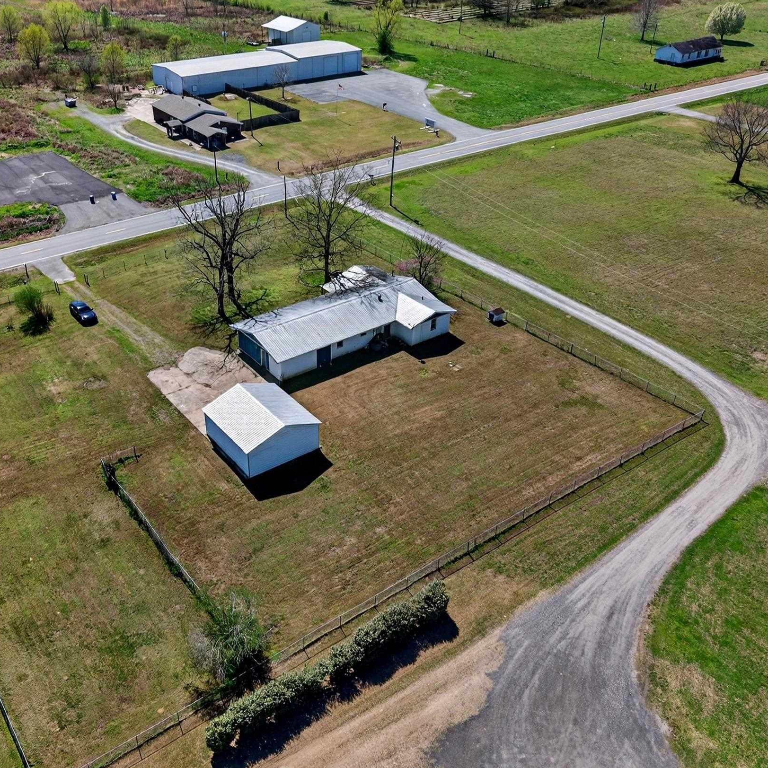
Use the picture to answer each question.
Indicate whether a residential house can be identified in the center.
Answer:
Yes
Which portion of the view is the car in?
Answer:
left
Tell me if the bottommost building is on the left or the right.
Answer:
left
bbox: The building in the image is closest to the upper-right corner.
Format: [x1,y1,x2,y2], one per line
[655,36,725,65]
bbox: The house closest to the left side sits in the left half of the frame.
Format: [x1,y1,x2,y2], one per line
[152,97,252,150]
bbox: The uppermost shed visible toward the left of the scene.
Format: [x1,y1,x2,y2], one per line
[256,13,320,45]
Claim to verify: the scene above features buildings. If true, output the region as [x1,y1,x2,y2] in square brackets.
[231,264,457,381]
[157,39,364,94]
[200,383,325,478]
[486,308,506,326]
[655,36,725,65]
[152,97,252,150]
[256,13,320,45]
